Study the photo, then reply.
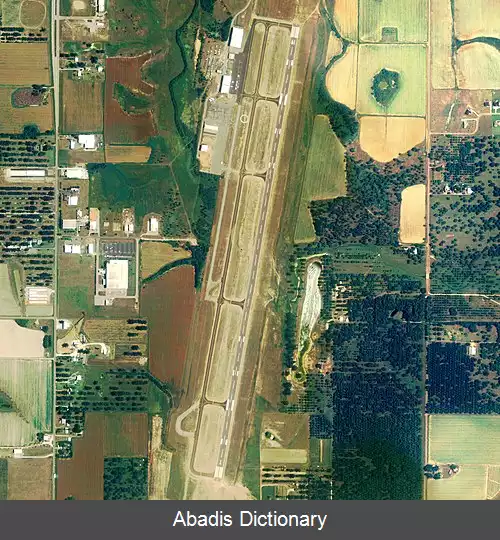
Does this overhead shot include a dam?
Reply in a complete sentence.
No, there's no dam here.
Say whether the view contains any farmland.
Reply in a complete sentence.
Yes, the picture does contain farmland.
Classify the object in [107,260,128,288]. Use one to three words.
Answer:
building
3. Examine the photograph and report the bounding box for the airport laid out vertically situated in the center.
[173,12,304,540]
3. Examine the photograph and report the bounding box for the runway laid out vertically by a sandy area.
[214,22,300,482]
